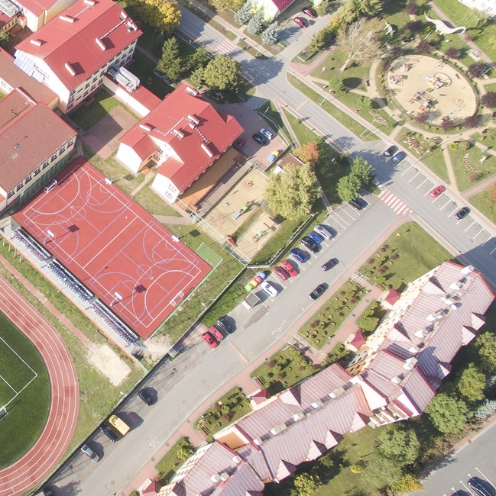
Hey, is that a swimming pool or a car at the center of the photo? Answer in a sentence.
Visible at the center of the photo is a car.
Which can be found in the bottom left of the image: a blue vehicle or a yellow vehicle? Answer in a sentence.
It is a yellow vehicle that can be seen in the bottom left of the image.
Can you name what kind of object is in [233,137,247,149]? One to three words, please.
vehicle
